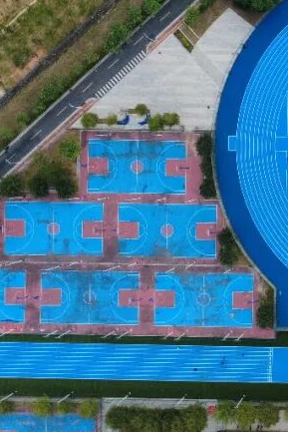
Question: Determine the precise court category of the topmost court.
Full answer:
The topmost court in the image is a basketball court.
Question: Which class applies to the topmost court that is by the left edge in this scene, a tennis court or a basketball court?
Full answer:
From above, the topmost court that is by the left edge can be identified as a basketball court.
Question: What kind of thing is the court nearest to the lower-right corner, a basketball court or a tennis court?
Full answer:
In the photo, the court nearest to the lower-right corner shows up as a basketball court.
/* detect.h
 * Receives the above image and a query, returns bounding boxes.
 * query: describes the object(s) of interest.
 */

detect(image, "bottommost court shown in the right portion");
[155,272,253,328]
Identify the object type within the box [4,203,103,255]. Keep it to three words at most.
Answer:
basketball court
